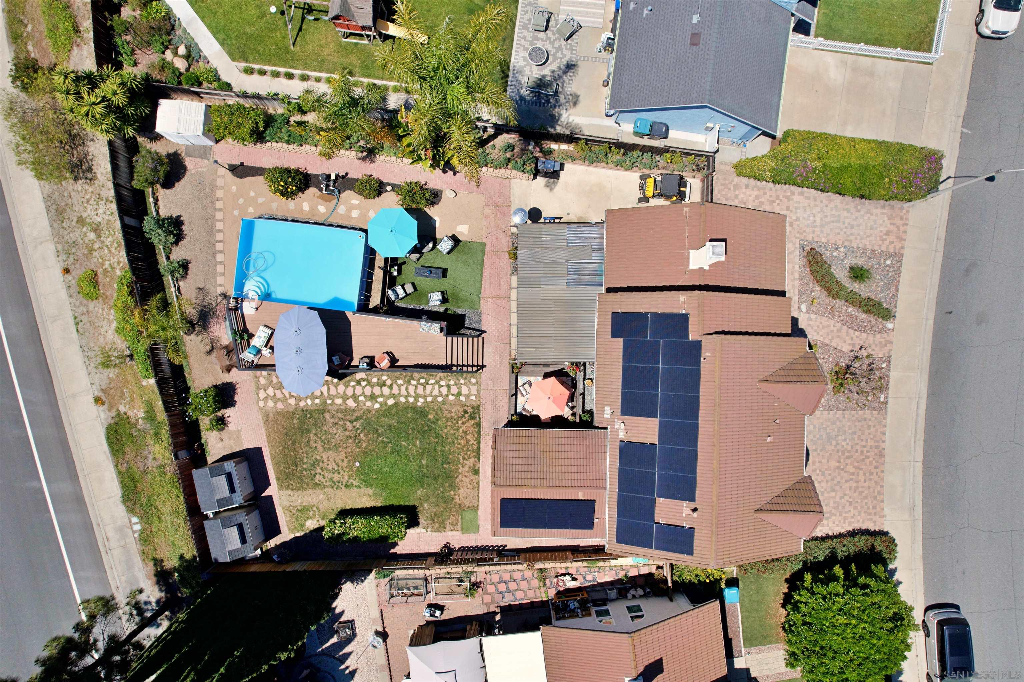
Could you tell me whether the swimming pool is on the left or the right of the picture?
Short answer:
left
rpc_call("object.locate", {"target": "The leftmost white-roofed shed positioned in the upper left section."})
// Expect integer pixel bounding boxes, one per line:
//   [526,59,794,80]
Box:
[156,100,217,144]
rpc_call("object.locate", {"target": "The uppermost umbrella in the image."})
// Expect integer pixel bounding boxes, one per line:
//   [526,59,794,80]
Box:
[368,208,418,258]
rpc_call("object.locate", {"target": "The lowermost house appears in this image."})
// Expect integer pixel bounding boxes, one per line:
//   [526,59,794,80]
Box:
[540,586,727,682]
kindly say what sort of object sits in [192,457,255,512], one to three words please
shed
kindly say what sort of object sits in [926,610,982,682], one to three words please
car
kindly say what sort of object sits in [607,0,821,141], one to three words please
house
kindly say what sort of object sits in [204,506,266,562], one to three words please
shed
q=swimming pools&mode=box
[234,215,375,312]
